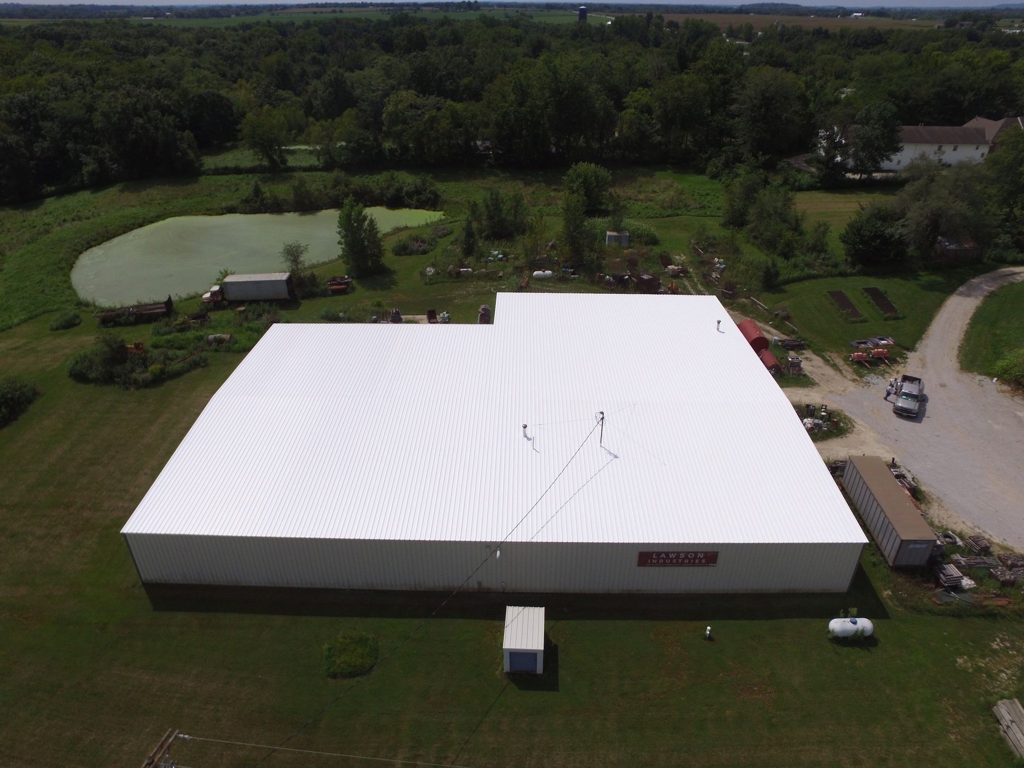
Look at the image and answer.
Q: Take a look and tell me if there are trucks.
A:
Yes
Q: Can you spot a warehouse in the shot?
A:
Yes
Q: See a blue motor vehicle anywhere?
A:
No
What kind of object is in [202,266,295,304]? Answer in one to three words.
truck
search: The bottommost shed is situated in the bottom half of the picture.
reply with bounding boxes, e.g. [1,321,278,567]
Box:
[504,607,545,674]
